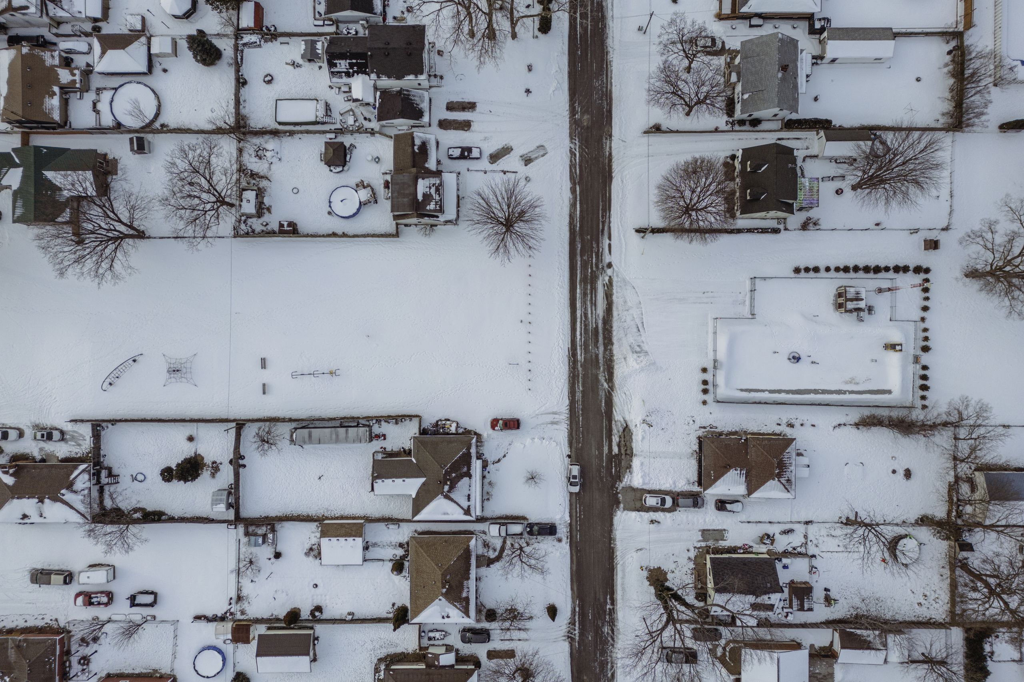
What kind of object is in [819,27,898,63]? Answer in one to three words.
building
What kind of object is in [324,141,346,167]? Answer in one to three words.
gazebo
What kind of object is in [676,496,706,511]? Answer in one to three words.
car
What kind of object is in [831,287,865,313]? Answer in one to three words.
shed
